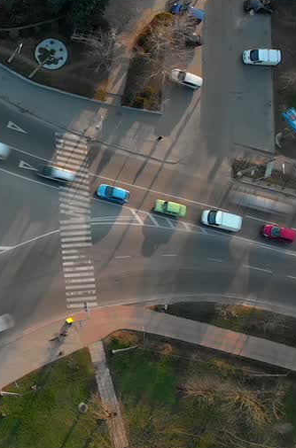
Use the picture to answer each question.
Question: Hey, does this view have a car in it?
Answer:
Yes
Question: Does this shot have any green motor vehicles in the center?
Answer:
Yes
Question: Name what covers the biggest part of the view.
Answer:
paved ground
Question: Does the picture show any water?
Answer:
No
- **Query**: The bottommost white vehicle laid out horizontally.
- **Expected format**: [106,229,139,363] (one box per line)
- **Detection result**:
[199,209,244,232]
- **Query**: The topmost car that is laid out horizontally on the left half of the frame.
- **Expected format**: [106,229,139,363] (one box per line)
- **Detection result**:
[39,164,77,184]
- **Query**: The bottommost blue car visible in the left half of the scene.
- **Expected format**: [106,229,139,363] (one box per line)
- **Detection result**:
[94,184,130,204]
